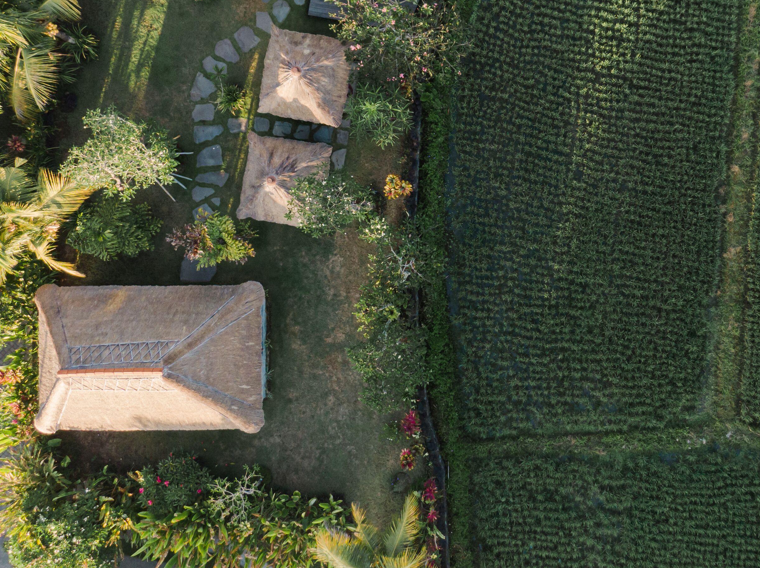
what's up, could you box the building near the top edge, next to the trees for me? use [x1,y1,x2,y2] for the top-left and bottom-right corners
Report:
[260,25,349,126]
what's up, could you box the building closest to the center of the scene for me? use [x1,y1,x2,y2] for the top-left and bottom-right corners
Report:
[238,132,333,233]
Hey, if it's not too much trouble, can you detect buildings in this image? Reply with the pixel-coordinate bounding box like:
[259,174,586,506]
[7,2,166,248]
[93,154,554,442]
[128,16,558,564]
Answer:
[33,281,271,435]
[260,25,349,126]
[238,132,333,233]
